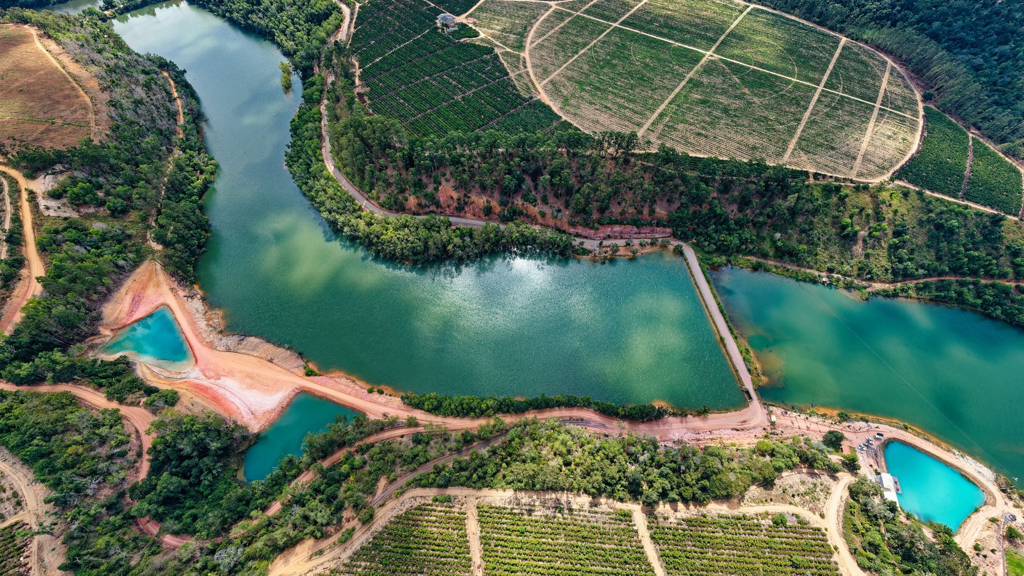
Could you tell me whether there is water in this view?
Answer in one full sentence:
Yes, there's water in this view.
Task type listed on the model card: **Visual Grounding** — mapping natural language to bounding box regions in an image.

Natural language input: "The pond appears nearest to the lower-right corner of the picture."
[884,440,985,531]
